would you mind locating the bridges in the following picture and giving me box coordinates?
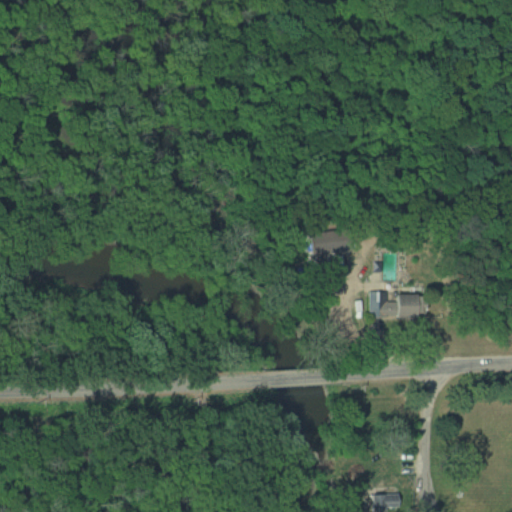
[263,368,328,388]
